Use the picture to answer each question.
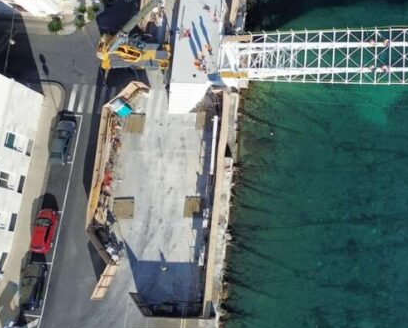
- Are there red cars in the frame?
Yes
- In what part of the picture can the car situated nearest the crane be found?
left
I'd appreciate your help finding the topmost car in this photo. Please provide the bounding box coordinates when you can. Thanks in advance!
[47,120,77,166]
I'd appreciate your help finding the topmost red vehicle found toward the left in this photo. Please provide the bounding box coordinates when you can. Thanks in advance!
[29,209,61,254]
